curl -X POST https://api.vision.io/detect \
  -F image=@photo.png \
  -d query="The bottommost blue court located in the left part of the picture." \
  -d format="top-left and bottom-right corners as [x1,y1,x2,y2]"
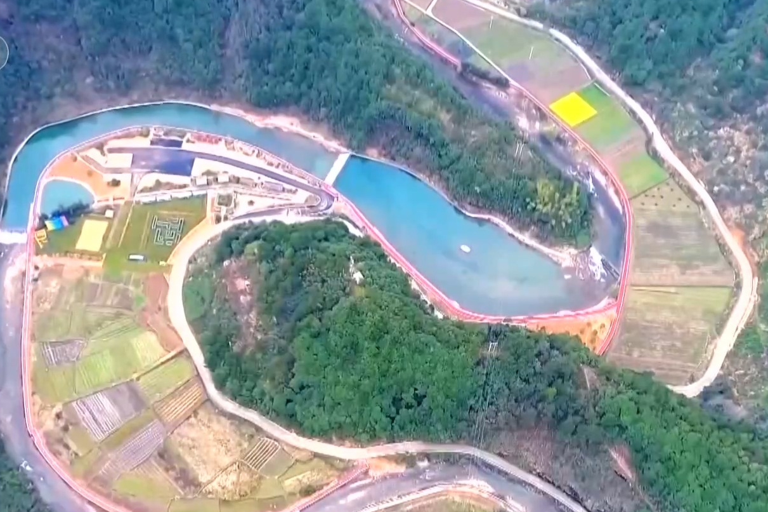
[159,160,194,176]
